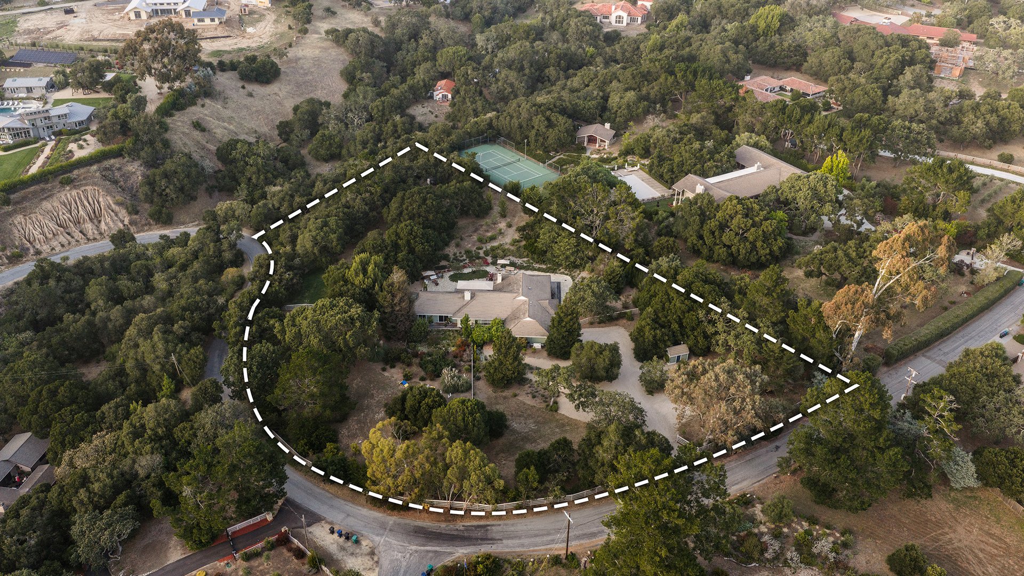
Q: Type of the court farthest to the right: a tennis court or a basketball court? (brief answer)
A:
tennis court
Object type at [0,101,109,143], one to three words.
house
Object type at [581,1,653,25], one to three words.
house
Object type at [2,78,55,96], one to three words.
building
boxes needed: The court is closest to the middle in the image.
[443,140,556,196]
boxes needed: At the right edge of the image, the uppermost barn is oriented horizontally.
[815,9,997,42]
